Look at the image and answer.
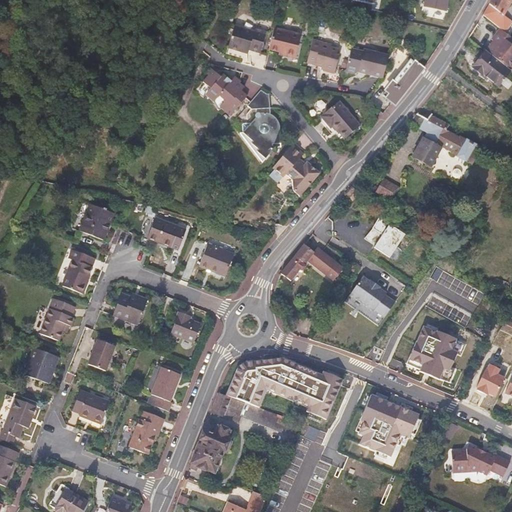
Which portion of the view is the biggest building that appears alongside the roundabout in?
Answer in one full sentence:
The biggest building that appears alongside the roundabout sits in the bottom section of the image.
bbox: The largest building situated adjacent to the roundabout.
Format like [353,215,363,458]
[227,358,347,420]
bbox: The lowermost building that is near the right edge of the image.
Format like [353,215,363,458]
[452,442,512,481]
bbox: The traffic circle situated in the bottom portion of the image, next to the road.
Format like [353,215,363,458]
[222,300,274,351]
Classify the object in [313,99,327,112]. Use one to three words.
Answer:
umbrella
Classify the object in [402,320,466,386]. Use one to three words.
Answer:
building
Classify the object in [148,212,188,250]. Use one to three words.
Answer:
house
